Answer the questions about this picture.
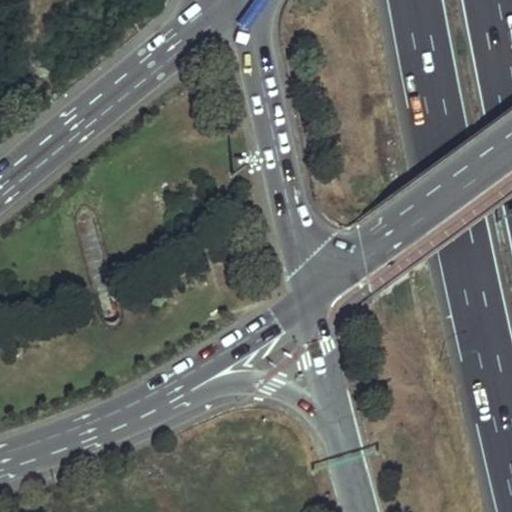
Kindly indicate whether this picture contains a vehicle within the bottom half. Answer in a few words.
Yes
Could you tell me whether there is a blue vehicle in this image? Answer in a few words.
Yes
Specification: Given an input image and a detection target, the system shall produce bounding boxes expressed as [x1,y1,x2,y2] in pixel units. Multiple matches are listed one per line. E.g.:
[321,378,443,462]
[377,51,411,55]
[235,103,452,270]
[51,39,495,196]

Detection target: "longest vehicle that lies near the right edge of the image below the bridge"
[472,382,492,422]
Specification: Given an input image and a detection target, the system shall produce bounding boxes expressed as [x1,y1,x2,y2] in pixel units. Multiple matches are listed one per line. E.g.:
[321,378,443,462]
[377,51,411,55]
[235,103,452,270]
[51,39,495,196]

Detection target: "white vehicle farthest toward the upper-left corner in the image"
[146,34,166,51]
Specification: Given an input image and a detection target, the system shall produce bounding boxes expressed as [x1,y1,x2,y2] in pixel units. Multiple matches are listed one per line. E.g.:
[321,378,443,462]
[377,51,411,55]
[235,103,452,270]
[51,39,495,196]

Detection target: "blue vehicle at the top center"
[234,0,268,46]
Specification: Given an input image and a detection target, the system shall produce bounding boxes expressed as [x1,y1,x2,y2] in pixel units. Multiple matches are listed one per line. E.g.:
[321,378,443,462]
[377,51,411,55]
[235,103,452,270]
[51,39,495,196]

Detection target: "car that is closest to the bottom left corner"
[146,374,168,390]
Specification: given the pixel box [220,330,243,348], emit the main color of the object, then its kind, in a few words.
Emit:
white vehicle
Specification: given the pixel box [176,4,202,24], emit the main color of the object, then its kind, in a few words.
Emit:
white vehicle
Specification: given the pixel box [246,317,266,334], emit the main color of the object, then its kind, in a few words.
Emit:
white car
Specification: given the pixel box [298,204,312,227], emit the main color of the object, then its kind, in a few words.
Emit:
white car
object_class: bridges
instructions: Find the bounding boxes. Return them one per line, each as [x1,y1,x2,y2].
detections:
[350,113,512,310]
